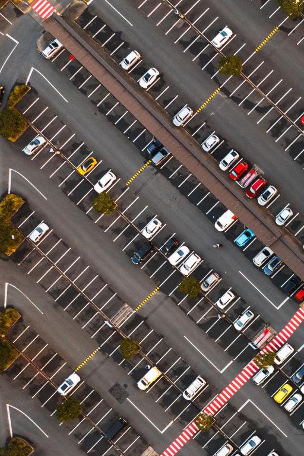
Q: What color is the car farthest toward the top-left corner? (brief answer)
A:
white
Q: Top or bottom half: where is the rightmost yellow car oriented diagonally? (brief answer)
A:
bottom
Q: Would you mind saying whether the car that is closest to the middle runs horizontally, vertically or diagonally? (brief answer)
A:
diagonally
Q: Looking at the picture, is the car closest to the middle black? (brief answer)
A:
No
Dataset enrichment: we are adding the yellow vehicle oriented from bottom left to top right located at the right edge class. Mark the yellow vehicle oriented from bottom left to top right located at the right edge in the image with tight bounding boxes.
[274,382,296,403]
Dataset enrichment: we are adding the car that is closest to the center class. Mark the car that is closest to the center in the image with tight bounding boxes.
[141,218,163,239]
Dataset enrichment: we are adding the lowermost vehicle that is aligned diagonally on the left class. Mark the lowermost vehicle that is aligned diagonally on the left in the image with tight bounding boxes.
[107,417,128,438]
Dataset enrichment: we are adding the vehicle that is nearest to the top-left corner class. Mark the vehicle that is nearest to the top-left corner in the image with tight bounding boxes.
[43,39,63,59]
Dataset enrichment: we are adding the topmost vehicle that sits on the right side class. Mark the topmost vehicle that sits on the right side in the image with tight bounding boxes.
[215,25,236,45]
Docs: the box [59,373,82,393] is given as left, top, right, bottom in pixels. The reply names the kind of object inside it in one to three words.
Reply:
car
